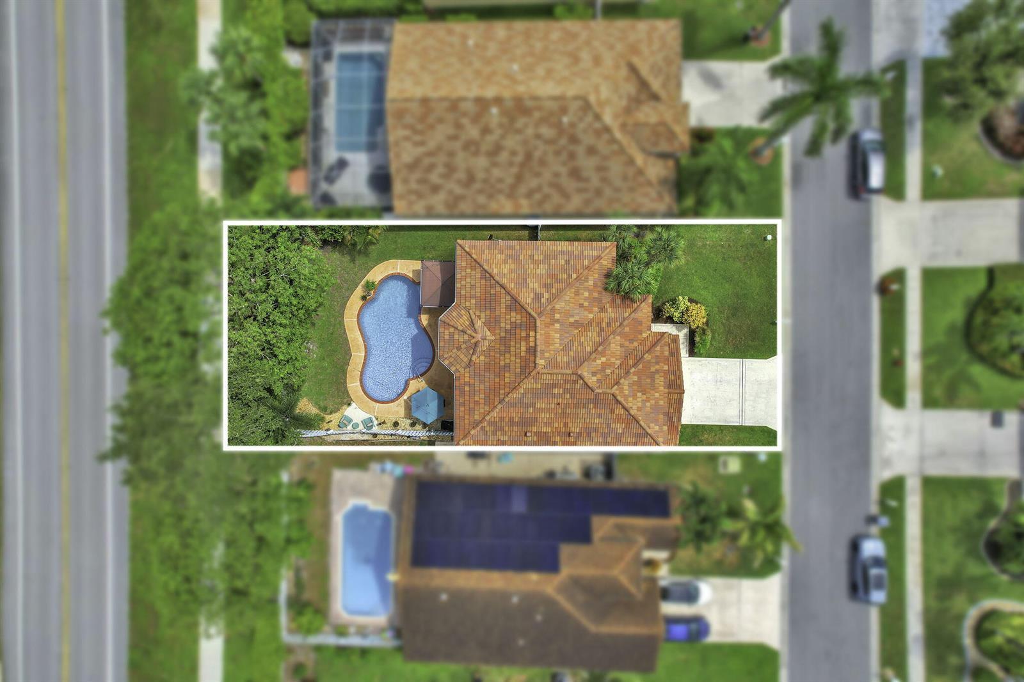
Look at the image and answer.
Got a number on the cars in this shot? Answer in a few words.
4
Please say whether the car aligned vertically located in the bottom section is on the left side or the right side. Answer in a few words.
right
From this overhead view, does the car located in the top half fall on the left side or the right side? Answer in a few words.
right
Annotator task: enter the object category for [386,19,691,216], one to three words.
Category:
house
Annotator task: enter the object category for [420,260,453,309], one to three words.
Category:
gazebo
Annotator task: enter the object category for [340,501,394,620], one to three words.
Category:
swimming pool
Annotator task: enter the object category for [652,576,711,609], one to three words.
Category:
car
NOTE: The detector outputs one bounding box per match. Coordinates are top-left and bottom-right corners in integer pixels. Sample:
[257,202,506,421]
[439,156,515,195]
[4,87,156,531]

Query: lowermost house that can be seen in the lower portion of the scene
[395,480,682,671]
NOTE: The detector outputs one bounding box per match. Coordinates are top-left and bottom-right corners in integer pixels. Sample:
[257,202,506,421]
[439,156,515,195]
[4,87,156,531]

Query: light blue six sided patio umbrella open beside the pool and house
[411,386,445,425]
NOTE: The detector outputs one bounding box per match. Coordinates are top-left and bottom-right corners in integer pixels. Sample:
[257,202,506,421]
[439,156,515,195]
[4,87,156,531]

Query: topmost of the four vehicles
[850,130,885,198]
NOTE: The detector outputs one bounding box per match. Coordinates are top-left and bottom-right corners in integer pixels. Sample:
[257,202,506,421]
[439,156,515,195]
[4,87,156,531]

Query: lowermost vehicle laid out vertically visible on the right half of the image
[850,532,884,601]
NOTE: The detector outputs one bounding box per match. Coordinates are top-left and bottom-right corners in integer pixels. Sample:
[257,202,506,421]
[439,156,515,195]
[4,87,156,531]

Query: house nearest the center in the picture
[436,238,686,452]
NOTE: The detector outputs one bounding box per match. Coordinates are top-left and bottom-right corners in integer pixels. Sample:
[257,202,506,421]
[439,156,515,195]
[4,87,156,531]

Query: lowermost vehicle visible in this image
[657,609,710,641]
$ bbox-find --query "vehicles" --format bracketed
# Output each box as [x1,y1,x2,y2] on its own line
[657,609,710,641]
[652,576,711,609]
[850,532,884,601]
[850,130,885,198]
